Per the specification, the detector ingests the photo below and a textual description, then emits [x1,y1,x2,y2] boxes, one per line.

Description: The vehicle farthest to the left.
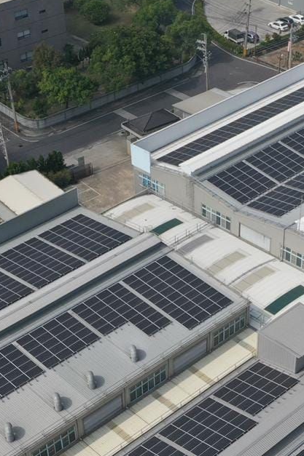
[221,25,249,42]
